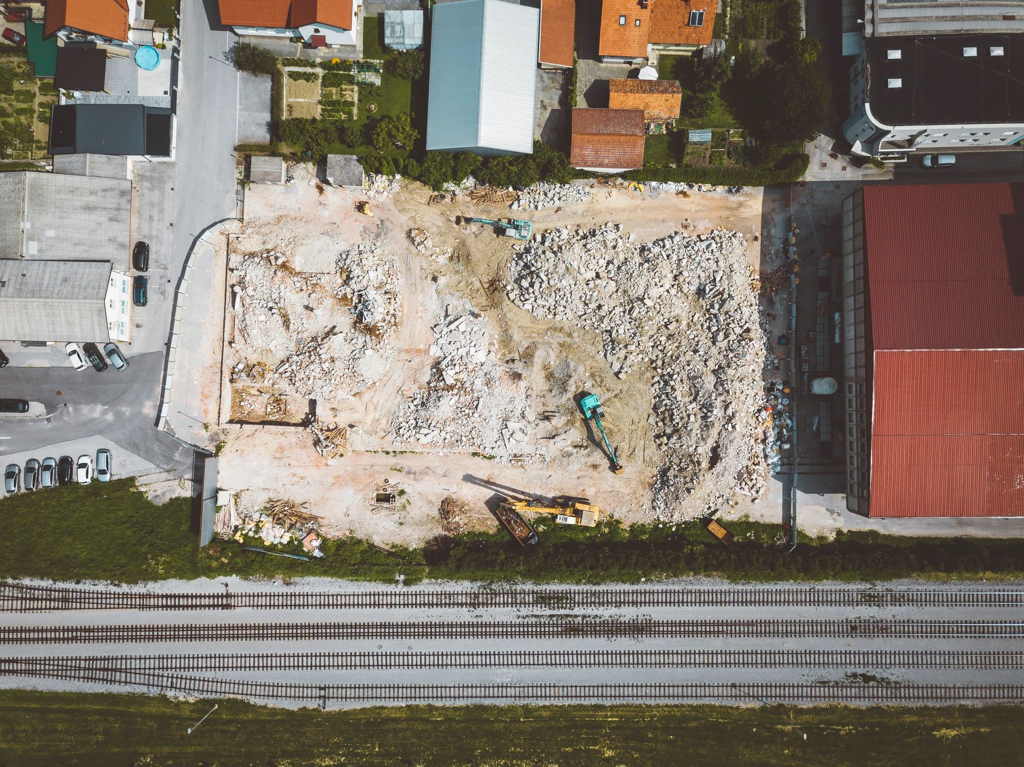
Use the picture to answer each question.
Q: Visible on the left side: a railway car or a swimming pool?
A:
swimming pool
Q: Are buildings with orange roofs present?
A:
Yes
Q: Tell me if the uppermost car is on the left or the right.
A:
left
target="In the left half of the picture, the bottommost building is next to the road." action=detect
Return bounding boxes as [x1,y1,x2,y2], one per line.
[0,261,133,346]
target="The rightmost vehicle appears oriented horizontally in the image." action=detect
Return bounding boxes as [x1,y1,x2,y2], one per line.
[921,153,956,169]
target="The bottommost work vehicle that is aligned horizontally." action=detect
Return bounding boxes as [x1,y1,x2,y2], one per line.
[502,503,602,528]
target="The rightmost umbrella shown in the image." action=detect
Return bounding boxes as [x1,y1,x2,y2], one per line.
[638,65,657,80]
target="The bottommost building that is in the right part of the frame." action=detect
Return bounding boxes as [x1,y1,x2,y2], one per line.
[844,183,1024,519]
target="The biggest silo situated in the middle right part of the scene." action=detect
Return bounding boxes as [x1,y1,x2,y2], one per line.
[807,376,837,394]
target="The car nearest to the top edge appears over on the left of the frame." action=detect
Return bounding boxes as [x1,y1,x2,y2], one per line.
[0,25,27,49]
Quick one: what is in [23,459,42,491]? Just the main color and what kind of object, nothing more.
gray car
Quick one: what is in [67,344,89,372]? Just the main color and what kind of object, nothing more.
white car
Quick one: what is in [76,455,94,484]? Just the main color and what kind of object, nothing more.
white car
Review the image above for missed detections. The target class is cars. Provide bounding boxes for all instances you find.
[57,456,75,486]
[40,458,59,488]
[0,25,27,49]
[67,344,89,372]
[85,344,108,373]
[4,464,23,493]
[132,241,150,272]
[106,344,129,372]
[76,455,94,484]
[23,459,42,491]
[95,449,113,481]
[131,276,149,306]
[0,399,31,414]
[0,344,11,373]
[921,153,956,169]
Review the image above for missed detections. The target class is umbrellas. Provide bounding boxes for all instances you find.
[638,65,657,80]
[74,92,86,101]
